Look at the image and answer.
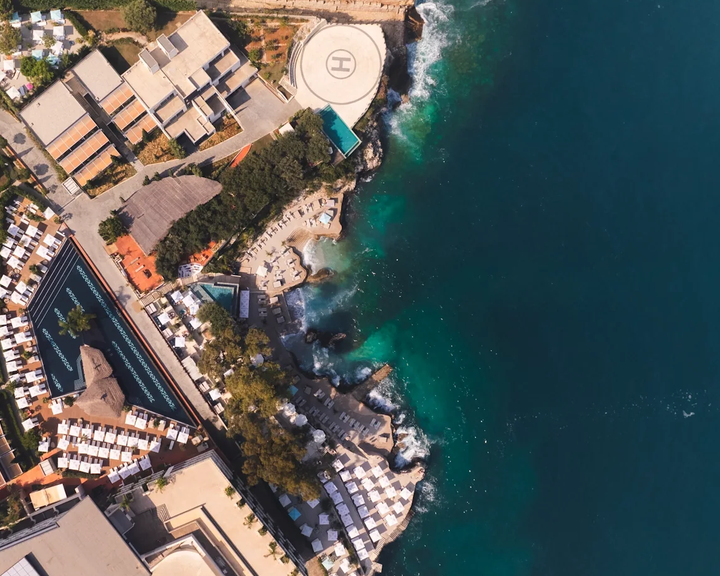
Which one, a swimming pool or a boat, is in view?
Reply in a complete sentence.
The one in the frame is a swimming pool.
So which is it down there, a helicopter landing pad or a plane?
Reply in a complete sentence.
The image shows a helicopter landing pad.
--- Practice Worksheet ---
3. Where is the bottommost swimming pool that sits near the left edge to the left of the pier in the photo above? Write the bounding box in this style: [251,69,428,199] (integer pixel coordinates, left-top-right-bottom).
[28,236,198,427]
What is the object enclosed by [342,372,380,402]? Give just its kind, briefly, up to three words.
pier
